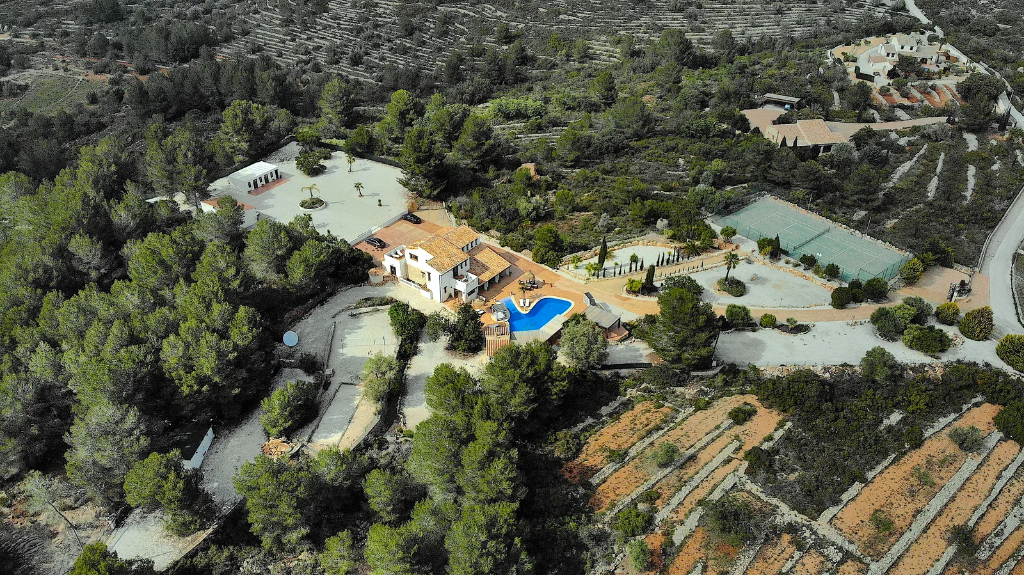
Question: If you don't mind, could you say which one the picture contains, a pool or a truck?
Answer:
pool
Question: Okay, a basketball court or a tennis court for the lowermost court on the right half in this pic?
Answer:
tennis court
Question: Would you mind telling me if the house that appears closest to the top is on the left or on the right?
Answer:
right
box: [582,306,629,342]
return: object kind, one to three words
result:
shed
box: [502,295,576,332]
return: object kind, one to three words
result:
swimming pool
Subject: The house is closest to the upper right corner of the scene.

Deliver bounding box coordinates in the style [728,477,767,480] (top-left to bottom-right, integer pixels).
[868,36,965,71]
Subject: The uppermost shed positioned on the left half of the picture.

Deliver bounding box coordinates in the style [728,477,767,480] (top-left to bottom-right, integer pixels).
[229,160,293,194]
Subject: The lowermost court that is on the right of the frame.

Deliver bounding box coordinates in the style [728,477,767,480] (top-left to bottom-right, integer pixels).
[716,196,914,289]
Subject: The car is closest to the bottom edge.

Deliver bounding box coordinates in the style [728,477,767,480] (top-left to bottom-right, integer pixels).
[363,235,385,249]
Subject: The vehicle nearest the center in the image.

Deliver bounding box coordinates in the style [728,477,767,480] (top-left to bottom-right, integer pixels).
[401,212,422,224]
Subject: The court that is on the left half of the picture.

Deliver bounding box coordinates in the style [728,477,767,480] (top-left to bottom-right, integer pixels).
[330,309,400,384]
